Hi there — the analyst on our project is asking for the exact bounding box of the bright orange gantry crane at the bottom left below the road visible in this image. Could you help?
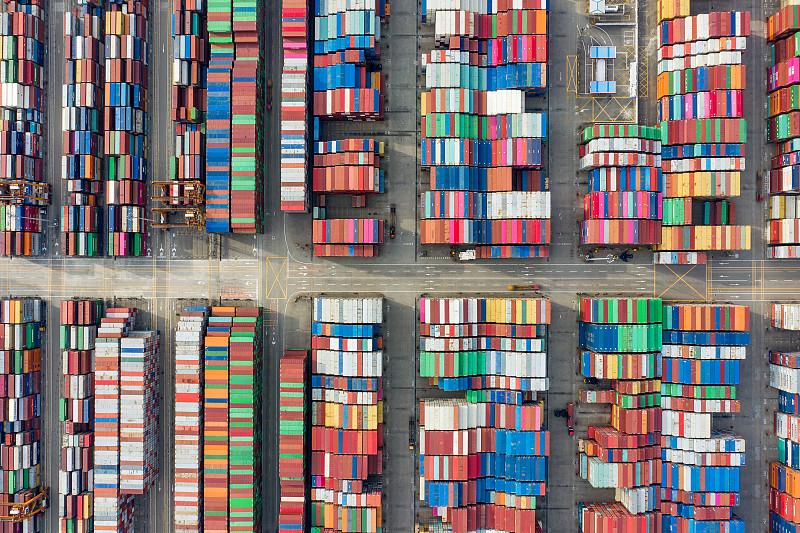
[0,485,50,520]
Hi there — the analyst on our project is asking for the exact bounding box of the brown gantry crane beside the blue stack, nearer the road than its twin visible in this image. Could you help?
[145,208,207,232]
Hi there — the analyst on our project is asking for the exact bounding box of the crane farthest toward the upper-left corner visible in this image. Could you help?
[0,181,50,206]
